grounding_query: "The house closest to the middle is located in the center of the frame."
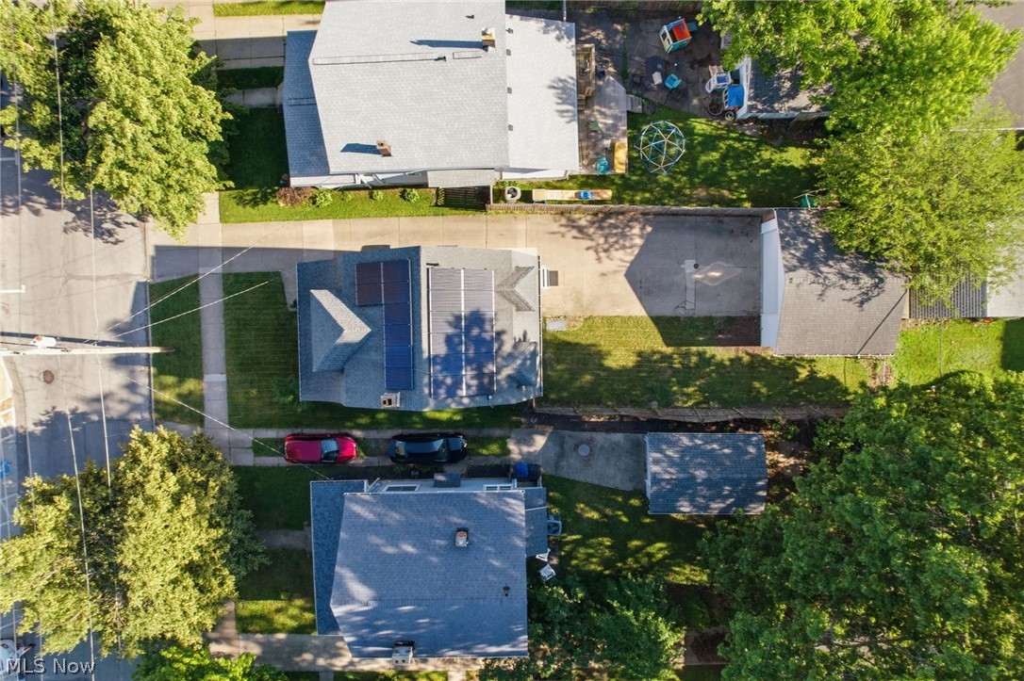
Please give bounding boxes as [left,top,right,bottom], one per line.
[295,247,558,410]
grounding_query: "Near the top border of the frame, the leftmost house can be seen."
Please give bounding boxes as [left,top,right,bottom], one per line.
[283,2,577,197]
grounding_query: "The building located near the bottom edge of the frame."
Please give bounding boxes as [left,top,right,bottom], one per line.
[311,469,547,665]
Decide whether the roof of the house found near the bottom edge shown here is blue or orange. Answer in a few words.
blue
